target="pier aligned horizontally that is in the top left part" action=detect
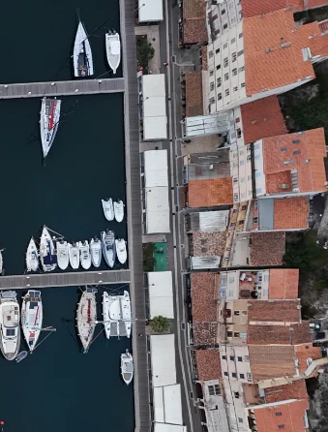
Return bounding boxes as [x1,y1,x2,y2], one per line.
[0,79,124,99]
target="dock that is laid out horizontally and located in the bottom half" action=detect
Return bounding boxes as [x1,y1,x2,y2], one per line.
[0,270,130,290]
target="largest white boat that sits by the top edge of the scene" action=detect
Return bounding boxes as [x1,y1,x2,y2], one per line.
[72,14,112,79]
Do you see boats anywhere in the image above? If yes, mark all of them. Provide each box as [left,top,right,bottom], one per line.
[38,226,67,274]
[119,348,134,391]
[72,14,112,79]
[25,237,45,274]
[14,351,26,363]
[21,289,57,353]
[38,98,77,157]
[67,240,80,271]
[103,30,121,79]
[78,288,119,352]
[102,292,147,339]
[0,248,9,276]
[101,196,114,228]
[79,239,91,272]
[90,237,101,268]
[0,289,21,361]
[115,237,127,269]
[113,198,125,231]
[55,239,68,274]
[100,229,116,268]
